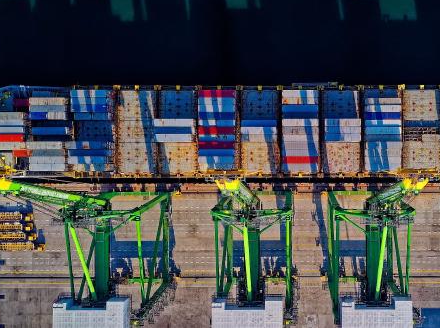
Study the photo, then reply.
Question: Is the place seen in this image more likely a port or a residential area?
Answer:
port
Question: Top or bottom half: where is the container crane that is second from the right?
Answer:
bottom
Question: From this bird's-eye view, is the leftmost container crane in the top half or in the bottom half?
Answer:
bottom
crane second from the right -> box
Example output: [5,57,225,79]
[196,166,302,328]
